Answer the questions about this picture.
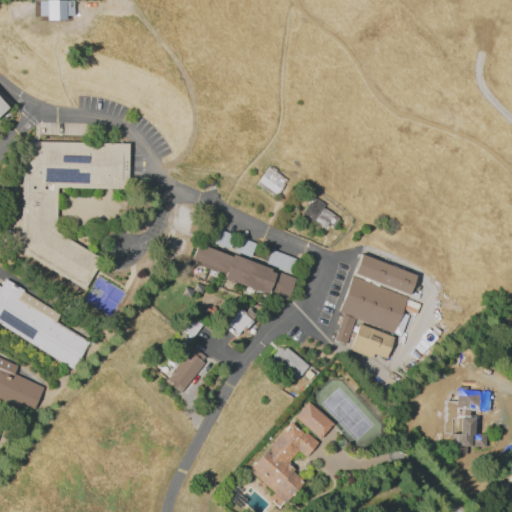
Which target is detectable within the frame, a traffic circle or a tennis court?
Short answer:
tennis court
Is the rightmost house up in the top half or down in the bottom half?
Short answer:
bottom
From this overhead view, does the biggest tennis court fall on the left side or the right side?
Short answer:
right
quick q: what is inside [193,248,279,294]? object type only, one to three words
house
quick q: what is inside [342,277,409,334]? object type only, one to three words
building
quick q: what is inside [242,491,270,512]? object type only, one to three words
swimming pool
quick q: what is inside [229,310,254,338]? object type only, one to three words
house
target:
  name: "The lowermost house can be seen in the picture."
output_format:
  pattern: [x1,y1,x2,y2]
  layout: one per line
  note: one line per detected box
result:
[254,426,320,507]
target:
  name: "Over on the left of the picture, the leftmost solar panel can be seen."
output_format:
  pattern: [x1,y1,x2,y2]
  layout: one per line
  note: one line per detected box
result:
[0,311,36,338]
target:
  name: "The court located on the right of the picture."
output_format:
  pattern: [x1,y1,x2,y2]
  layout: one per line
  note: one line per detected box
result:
[317,380,381,446]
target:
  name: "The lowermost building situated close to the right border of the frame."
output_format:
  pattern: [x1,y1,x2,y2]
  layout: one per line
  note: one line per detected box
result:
[454,388,492,456]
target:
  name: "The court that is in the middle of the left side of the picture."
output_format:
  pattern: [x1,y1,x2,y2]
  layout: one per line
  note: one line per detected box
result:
[84,276,126,312]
